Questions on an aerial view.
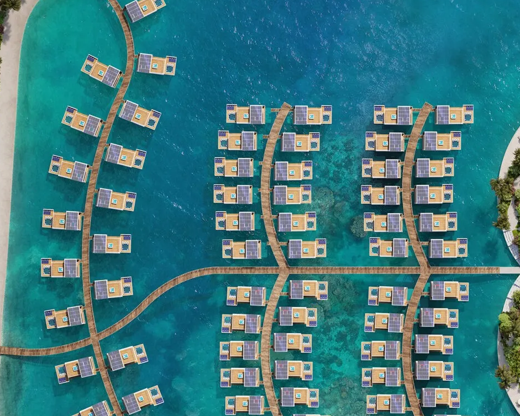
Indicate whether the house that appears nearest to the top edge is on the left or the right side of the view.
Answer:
left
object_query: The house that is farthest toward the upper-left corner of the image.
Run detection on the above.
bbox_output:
[81,53,123,88]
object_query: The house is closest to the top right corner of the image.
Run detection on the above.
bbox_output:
[435,104,474,124]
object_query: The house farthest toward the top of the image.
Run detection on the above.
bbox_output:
[124,0,167,22]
